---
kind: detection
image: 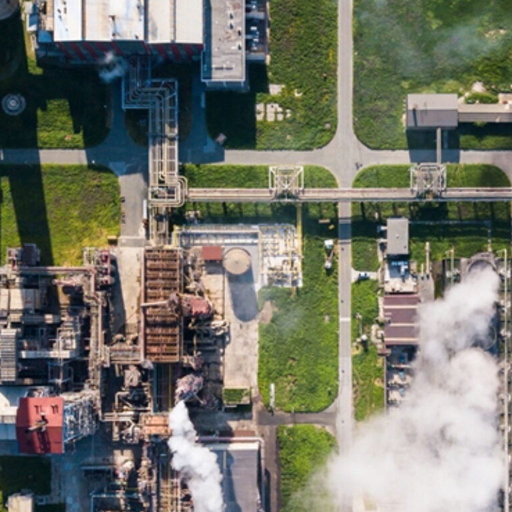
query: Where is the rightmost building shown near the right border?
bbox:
[458,100,512,125]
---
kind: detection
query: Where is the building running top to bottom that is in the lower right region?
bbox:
[384,347,418,432]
